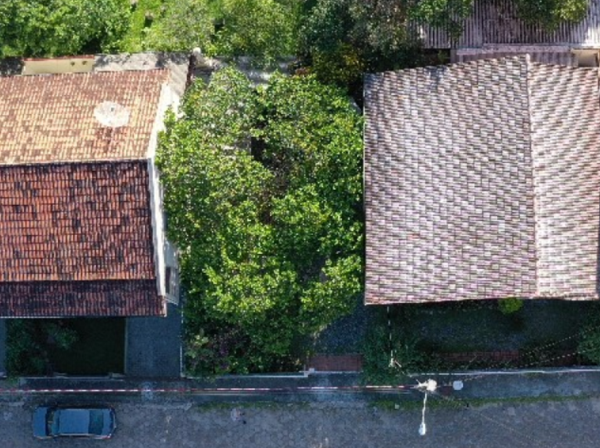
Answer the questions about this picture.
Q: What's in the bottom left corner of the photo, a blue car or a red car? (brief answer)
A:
blue car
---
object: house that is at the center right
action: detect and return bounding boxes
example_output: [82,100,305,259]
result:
[363,54,600,305]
